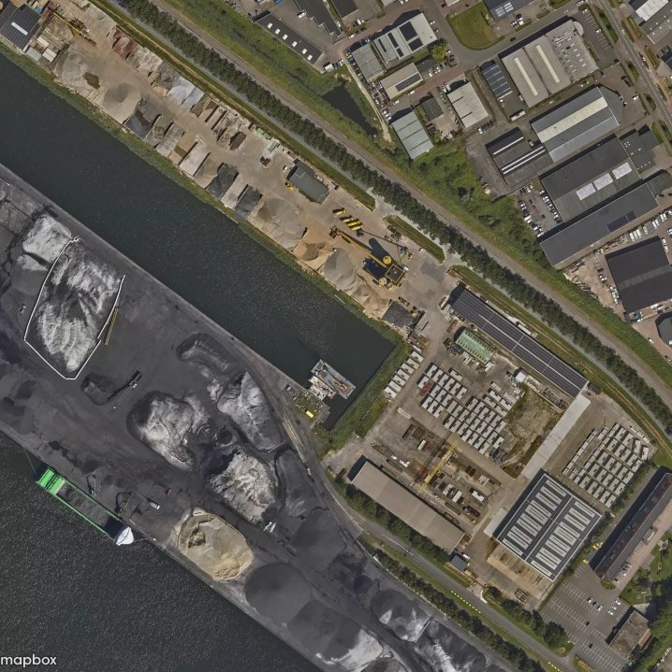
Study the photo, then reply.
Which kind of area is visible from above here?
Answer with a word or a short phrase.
port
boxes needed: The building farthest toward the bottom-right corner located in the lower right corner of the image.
[609,610,646,659]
